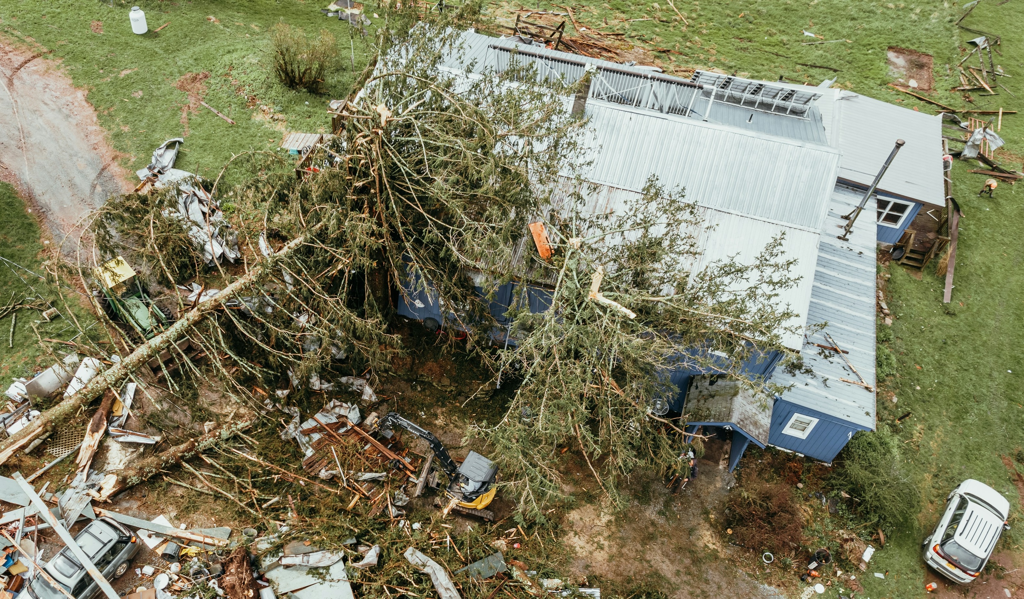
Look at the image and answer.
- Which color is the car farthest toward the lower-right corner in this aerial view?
white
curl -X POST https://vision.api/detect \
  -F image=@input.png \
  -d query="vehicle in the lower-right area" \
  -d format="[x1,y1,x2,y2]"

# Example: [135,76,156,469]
[922,480,1011,586]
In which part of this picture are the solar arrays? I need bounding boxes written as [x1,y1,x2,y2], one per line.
[690,68,827,120]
